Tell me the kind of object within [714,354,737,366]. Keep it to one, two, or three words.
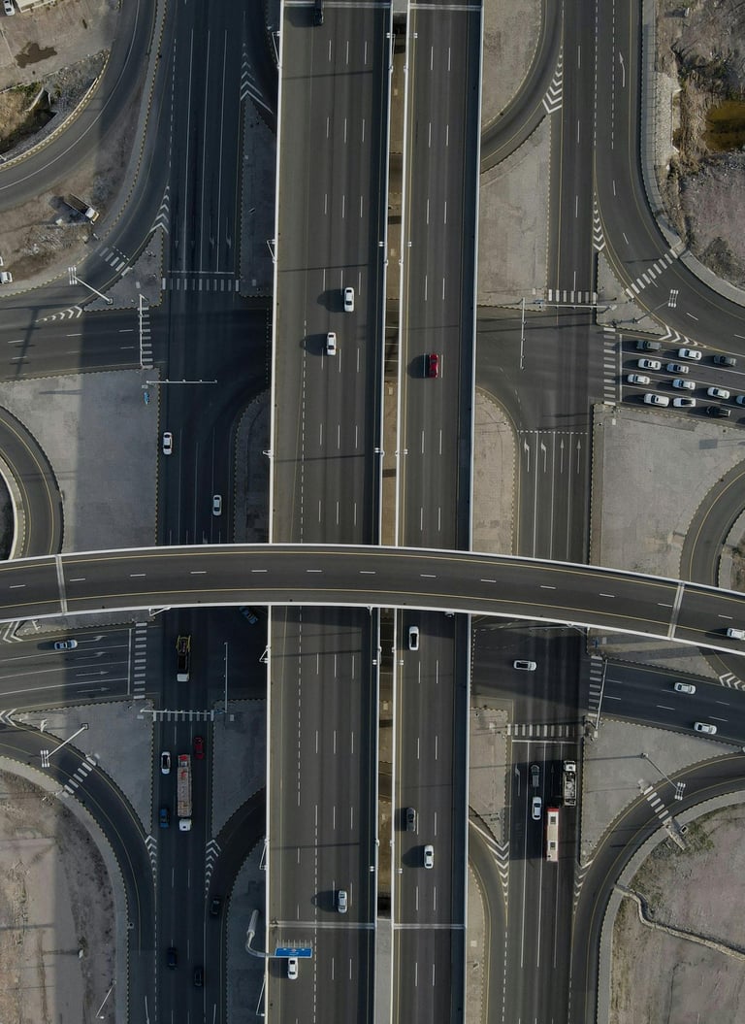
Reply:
vehicle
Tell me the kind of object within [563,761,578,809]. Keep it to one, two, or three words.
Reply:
vehicle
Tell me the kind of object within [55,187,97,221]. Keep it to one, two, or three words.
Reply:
truck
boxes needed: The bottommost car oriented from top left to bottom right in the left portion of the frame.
[240,604,258,624]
